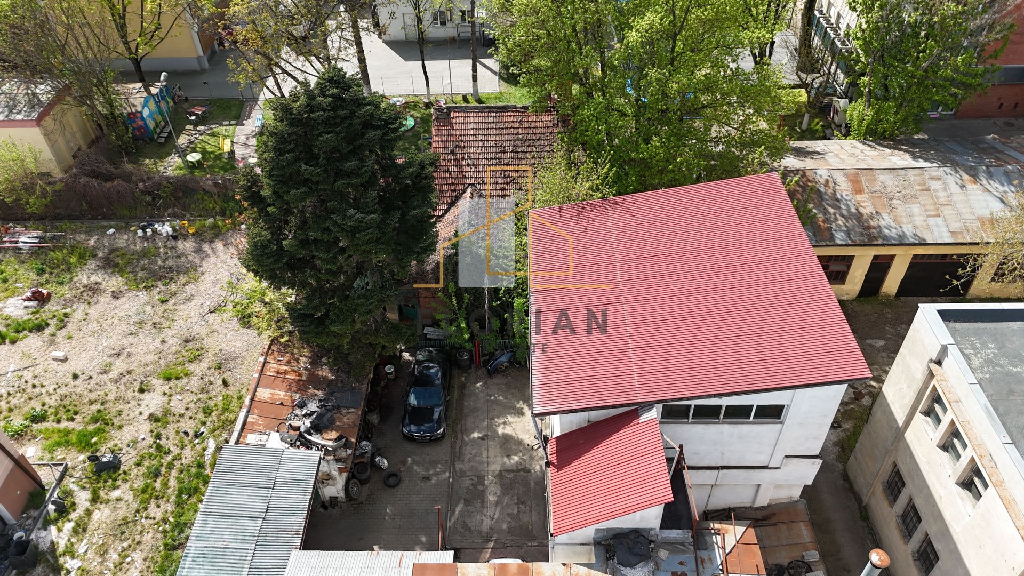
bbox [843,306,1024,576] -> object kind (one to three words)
building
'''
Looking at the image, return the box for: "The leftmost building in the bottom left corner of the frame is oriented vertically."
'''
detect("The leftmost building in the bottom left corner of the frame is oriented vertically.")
[0,423,44,527]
